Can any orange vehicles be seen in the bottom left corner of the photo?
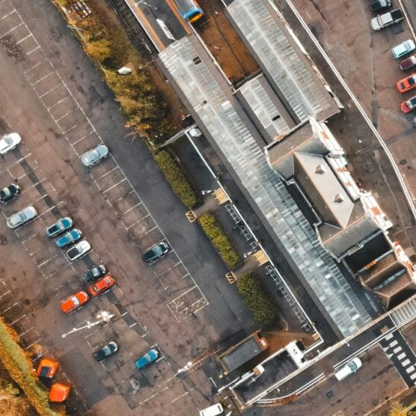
Yes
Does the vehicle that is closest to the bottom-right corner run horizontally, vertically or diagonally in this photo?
diagonally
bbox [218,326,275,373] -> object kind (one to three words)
shed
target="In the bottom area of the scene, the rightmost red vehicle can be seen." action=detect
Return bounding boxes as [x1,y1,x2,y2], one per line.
[87,274,119,297]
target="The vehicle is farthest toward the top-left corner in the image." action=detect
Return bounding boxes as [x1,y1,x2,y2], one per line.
[0,132,26,155]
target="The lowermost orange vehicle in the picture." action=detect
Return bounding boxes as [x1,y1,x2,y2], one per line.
[49,378,73,404]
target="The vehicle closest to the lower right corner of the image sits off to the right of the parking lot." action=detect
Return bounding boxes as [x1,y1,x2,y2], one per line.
[332,357,365,384]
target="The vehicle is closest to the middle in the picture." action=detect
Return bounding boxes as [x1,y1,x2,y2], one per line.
[140,239,172,264]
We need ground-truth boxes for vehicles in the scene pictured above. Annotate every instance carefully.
[44,215,77,238]
[332,357,365,384]
[54,227,86,249]
[0,132,26,155]
[132,345,164,371]
[38,355,61,380]
[389,40,416,60]
[87,274,119,297]
[91,340,122,362]
[81,263,110,284]
[80,143,113,169]
[49,378,73,404]
[368,0,394,14]
[369,9,405,32]
[140,239,172,264]
[399,95,416,114]
[398,53,416,72]
[396,73,416,94]
[195,398,231,416]
[0,183,24,204]
[63,239,94,263]
[4,204,41,230]
[58,289,92,316]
